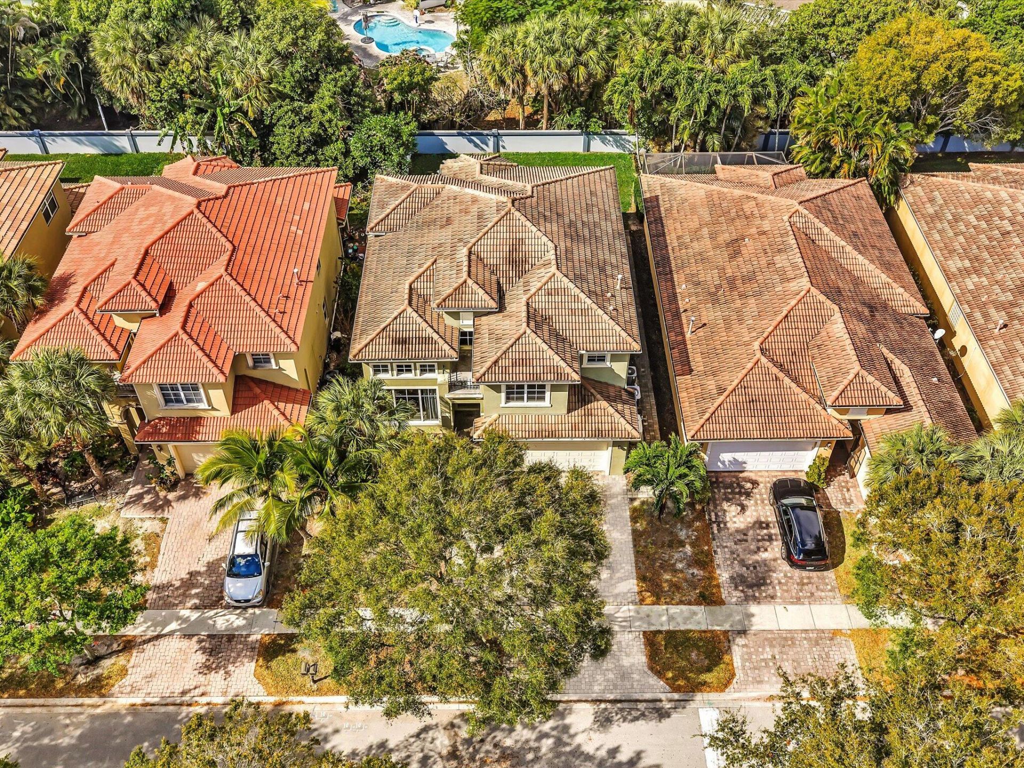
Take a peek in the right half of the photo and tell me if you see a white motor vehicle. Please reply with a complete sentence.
No, no white motor vehicle is visible in the right half of the photo.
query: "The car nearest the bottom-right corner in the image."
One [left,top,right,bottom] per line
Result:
[768,474,834,577]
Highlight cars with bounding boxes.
[220,512,275,609]
[768,474,834,577]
